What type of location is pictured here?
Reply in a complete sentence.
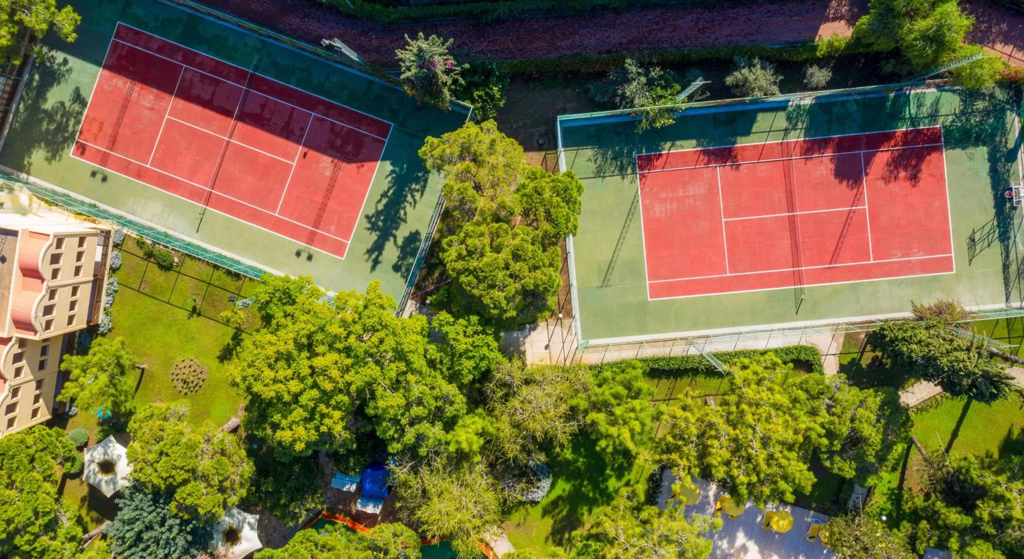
This looks like a sports ground.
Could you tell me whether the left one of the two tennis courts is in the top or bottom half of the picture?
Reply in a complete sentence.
It is in the top half that the left one of the two tennis courts appears.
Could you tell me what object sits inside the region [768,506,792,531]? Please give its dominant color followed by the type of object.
yellow umbrella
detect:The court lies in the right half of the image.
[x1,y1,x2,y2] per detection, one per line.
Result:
[556,78,1024,347]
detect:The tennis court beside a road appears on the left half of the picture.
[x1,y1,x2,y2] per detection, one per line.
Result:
[0,0,475,318]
